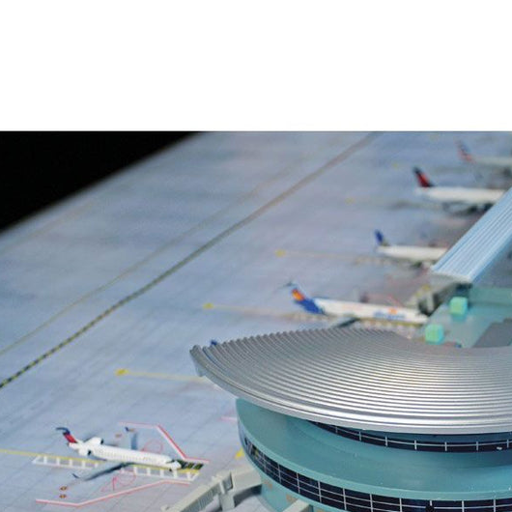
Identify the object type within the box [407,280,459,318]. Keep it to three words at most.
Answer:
jet bridge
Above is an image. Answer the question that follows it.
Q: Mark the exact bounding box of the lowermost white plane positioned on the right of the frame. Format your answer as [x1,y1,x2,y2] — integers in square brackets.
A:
[300,280,431,328]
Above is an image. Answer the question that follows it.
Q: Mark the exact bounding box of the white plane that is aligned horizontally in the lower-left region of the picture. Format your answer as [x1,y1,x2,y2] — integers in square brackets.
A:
[51,423,177,474]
